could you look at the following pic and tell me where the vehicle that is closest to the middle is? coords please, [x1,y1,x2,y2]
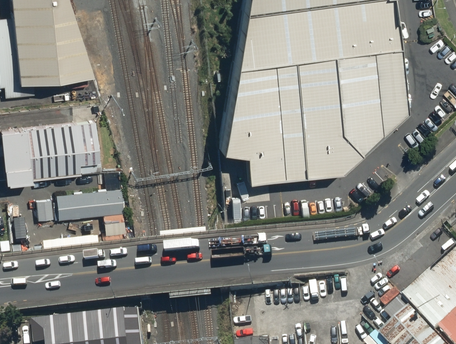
[235,179,250,202]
